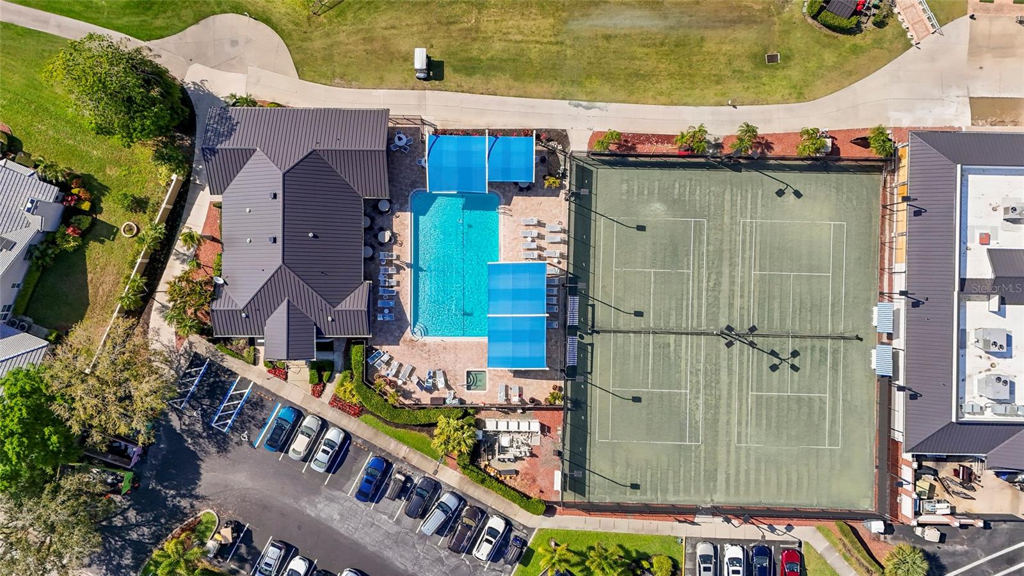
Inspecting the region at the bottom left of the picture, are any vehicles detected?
Yes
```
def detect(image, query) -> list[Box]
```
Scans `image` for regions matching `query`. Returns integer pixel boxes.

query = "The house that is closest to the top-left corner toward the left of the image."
[0,158,67,304]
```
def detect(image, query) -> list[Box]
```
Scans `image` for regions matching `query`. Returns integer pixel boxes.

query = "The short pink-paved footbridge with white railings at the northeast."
[896,0,949,40]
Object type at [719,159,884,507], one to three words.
tennis court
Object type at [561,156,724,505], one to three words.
tennis court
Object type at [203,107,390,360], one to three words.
building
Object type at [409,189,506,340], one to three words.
swimming pool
